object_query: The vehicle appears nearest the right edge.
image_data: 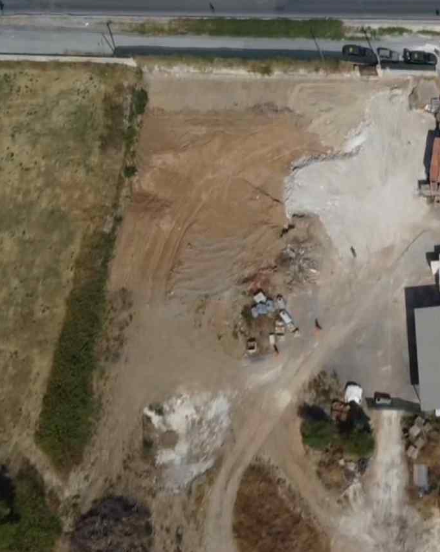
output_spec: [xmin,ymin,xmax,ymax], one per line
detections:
[405,49,438,65]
